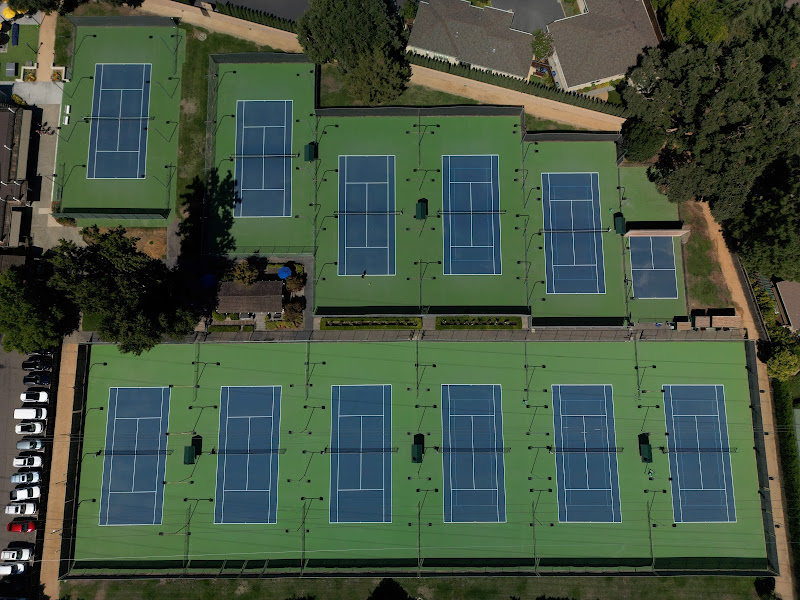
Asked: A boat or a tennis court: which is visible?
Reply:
tennis court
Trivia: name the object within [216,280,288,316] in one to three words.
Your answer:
building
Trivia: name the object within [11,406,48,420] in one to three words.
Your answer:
vehicle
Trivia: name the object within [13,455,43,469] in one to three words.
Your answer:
car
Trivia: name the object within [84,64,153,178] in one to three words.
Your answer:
tennis court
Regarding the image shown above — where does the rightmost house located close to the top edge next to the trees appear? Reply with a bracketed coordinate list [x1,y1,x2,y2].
[545,0,659,94]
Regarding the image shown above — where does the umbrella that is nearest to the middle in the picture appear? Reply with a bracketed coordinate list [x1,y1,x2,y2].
[278,266,292,279]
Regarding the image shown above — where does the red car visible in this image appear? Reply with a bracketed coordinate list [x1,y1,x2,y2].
[9,519,37,533]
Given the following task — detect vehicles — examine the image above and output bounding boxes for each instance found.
[0,561,27,577]
[21,390,50,403]
[27,347,54,359]
[9,519,37,533]
[17,438,45,452]
[13,455,43,469]
[9,485,41,500]
[11,406,48,420]
[24,373,52,387]
[16,422,45,435]
[23,359,52,372]
[6,501,38,515]
[1,546,33,562]
[11,470,41,484]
